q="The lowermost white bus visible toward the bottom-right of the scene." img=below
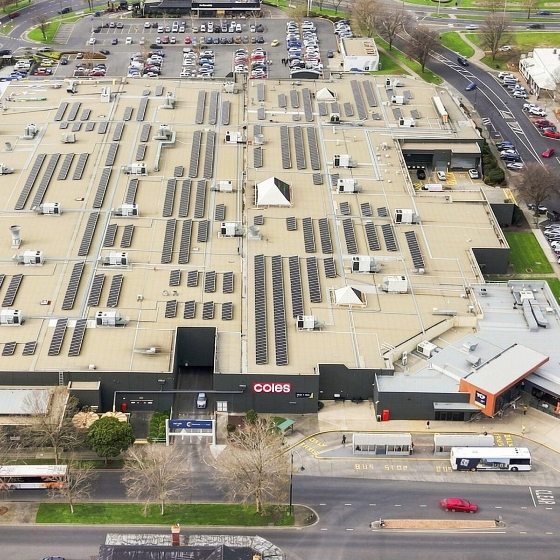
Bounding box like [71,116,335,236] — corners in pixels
[449,443,533,471]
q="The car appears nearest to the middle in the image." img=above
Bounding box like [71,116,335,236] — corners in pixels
[194,387,208,411]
